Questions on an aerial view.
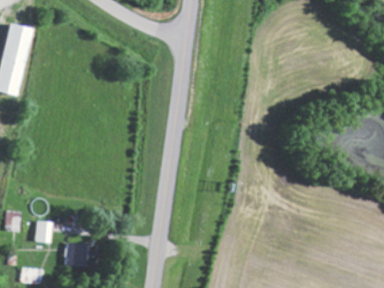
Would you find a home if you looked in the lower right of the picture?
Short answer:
No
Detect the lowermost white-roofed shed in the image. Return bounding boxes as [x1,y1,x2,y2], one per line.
[20,266,44,284]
